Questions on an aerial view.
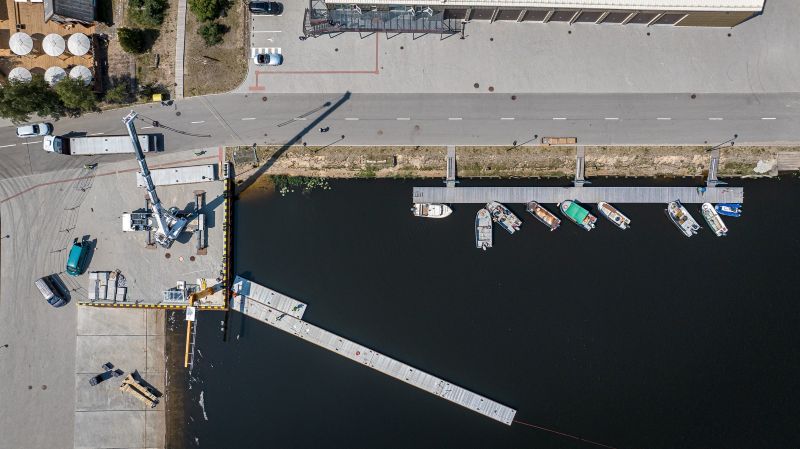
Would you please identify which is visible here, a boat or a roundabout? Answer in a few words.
boat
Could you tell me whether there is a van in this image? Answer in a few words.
Yes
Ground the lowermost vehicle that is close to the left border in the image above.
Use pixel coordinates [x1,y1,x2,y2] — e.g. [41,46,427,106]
[38,274,70,306]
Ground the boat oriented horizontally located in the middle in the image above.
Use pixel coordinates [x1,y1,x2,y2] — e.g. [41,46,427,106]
[411,205,453,219]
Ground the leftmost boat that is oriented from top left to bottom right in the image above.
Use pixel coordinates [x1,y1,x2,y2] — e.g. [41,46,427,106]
[490,202,523,235]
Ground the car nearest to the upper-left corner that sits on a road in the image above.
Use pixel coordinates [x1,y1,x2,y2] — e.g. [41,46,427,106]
[16,121,52,137]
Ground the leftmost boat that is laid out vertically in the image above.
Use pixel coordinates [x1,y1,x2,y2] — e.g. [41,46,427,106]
[475,208,493,251]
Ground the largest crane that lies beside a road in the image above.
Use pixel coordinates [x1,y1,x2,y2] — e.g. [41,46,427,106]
[123,105,214,254]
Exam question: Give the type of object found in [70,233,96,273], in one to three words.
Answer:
vehicle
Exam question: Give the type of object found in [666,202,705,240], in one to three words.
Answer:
boat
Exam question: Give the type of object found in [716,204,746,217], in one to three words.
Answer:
boat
